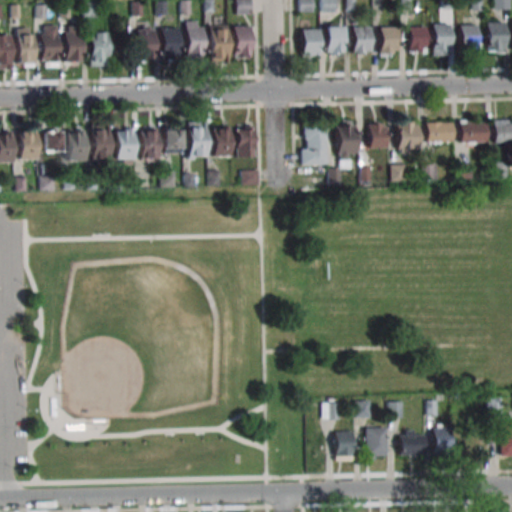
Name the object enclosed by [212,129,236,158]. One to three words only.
house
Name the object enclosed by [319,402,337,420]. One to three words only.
building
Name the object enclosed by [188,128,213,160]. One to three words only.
house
